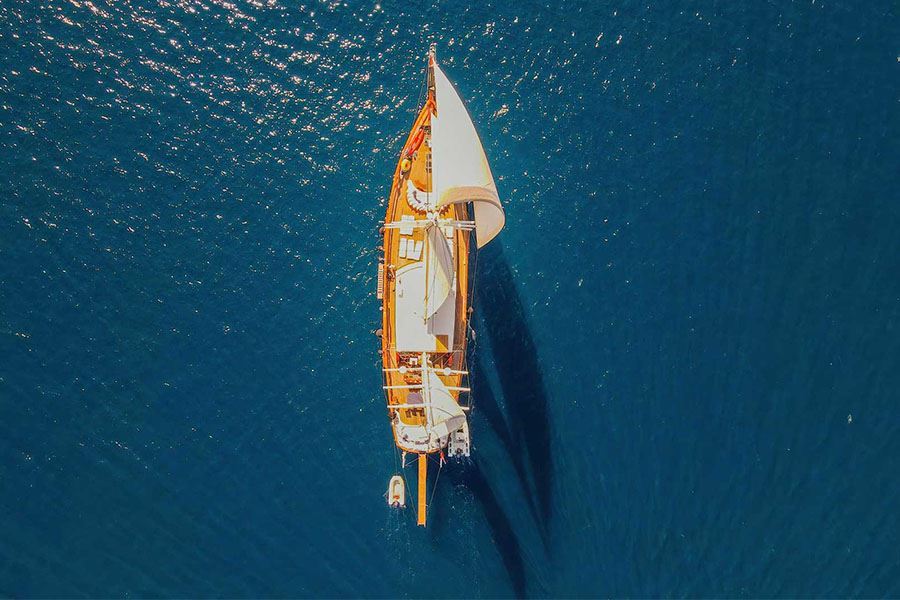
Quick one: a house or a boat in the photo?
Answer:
boat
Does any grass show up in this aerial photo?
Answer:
No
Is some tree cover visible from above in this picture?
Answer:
No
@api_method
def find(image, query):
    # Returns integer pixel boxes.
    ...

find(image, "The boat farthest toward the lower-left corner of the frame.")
[386,475,405,510]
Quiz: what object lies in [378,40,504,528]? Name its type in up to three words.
boat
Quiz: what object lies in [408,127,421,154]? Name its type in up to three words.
boat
